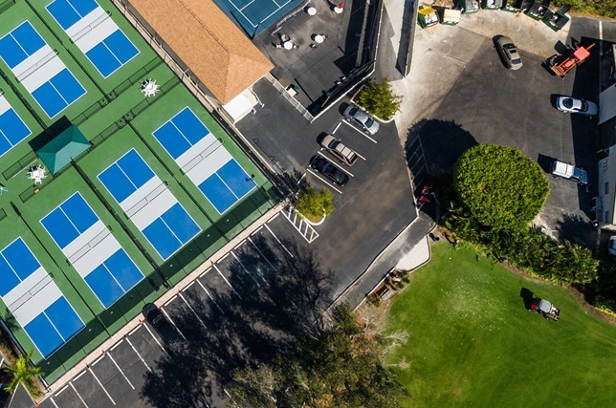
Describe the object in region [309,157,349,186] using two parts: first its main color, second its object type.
black car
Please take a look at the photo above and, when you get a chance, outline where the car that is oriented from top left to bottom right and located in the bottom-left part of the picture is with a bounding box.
[144,304,178,346]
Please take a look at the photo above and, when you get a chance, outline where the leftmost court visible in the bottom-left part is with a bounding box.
[0,237,86,358]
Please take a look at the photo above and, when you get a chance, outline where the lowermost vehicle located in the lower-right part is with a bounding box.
[525,296,563,325]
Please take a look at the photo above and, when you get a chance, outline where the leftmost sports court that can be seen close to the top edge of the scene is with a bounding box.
[0,19,87,119]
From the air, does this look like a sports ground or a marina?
sports ground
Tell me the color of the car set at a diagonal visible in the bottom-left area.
black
